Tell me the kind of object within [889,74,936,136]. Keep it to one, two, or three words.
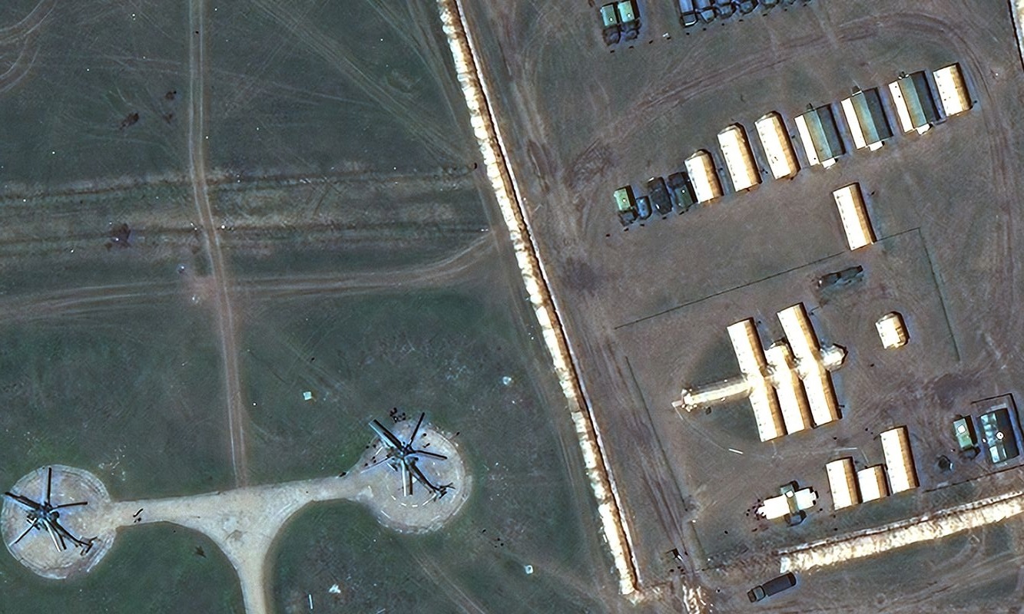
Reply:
tent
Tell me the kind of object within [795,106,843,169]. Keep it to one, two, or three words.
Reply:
tent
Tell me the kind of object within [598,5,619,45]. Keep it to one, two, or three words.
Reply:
truck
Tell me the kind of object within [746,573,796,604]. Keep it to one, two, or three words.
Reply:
truck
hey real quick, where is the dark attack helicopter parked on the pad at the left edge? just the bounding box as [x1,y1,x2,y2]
[3,467,95,556]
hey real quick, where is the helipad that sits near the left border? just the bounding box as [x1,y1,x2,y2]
[3,466,111,578]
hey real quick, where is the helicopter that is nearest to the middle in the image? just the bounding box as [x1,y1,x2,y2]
[362,413,449,500]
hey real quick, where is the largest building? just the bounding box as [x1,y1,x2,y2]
[681,306,843,442]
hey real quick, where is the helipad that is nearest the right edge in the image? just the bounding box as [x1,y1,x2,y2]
[365,421,470,533]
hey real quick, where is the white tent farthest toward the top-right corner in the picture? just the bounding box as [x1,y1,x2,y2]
[933,66,969,116]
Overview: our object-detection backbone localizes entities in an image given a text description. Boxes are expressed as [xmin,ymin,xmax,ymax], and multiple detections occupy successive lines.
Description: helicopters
[362,413,449,500]
[3,467,95,556]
